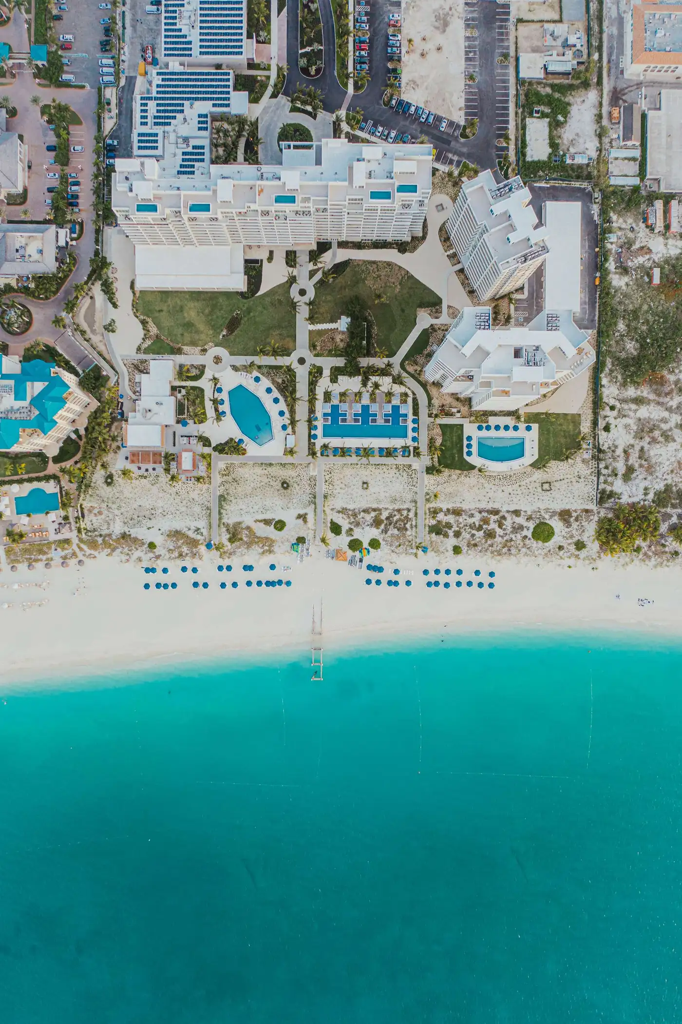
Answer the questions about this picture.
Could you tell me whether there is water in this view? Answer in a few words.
Yes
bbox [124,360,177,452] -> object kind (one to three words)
building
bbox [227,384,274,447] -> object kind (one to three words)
swimming pool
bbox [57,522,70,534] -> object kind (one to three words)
gazebo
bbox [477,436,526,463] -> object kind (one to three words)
swimming pool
